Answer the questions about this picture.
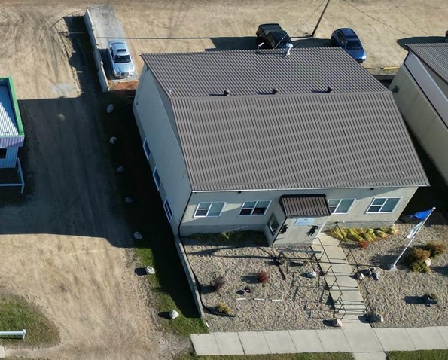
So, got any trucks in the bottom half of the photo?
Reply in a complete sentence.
No, no truck appears in the bottom half of the photo.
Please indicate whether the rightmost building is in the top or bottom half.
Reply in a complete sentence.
The top half of the photo is where the rightmost building is.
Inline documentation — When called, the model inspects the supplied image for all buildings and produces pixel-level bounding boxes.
[126,48,428,249]
[389,42,448,179]
[0,79,26,168]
